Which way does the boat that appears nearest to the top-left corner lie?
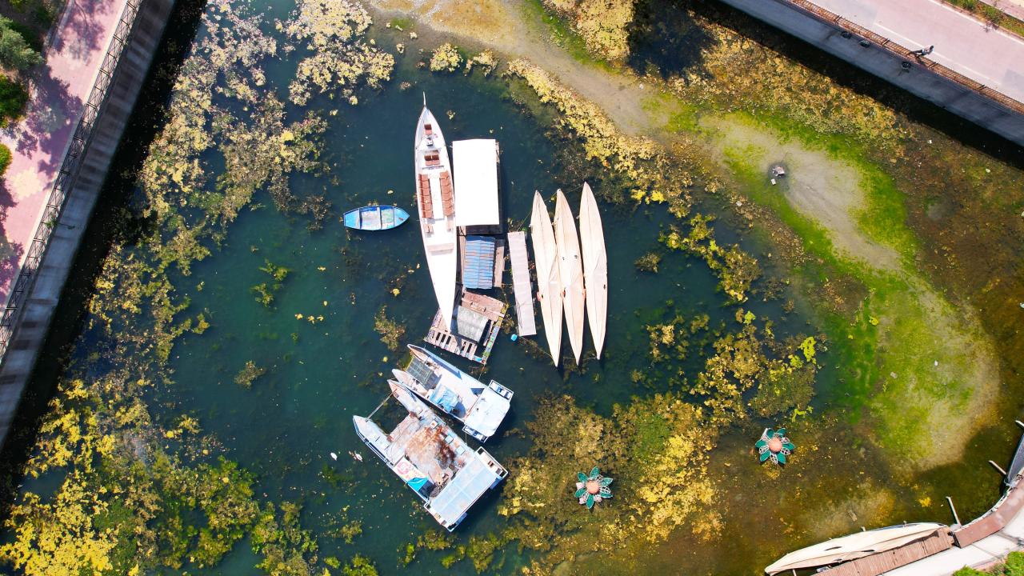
from side to side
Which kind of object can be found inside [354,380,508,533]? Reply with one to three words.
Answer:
boat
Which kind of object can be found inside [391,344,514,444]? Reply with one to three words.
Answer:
boat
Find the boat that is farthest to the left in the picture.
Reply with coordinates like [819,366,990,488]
[344,206,411,230]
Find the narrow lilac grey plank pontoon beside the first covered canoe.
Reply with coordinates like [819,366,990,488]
[507,232,537,335]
